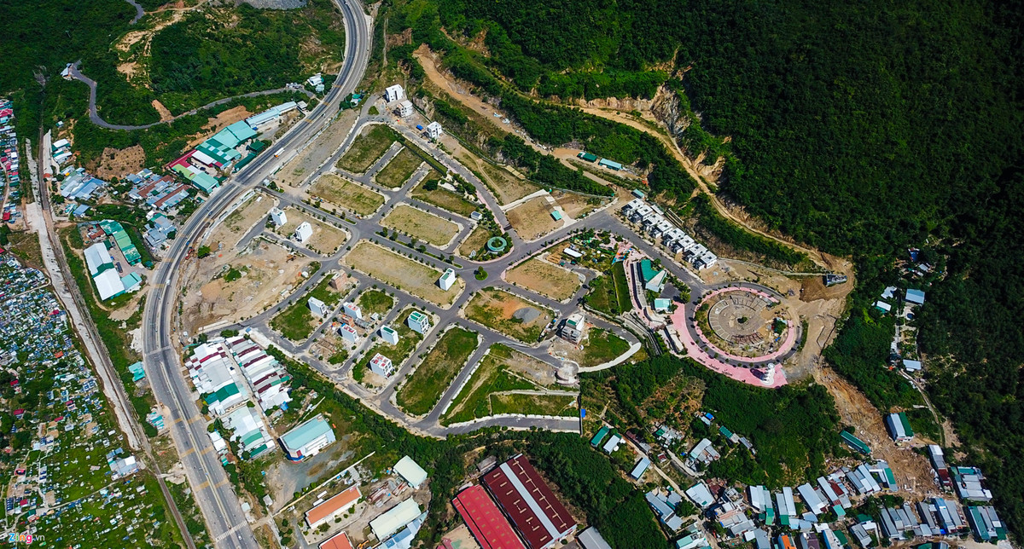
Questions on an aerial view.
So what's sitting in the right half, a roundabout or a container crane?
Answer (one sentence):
What appears in the right half is a roundabout.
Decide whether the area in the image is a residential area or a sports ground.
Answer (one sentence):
This image shows a residential area.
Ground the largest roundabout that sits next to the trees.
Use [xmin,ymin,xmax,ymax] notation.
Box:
[683,281,805,369]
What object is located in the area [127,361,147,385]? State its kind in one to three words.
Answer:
building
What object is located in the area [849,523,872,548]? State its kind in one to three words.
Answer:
house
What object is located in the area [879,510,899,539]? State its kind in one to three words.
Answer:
house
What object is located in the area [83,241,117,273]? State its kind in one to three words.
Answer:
building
